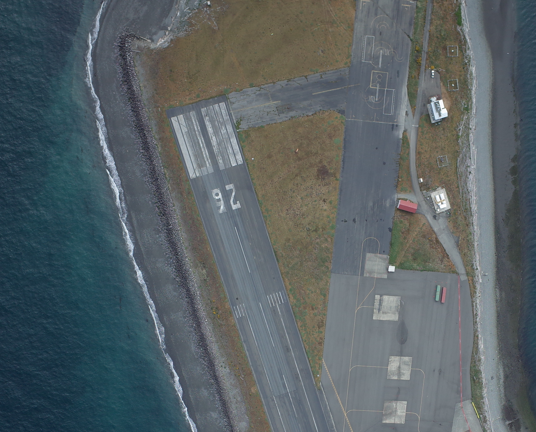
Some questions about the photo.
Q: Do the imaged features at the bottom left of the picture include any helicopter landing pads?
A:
No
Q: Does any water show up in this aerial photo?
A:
Yes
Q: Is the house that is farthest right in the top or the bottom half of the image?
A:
top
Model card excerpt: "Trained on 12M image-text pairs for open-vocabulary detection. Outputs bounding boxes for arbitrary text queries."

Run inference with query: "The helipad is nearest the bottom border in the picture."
[382,401,407,424]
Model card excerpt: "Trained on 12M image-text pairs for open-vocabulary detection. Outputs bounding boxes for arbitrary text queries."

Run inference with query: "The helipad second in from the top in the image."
[373,294,400,321]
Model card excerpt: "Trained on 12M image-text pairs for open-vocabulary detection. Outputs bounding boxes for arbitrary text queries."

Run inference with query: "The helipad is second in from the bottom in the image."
[387,356,413,380]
